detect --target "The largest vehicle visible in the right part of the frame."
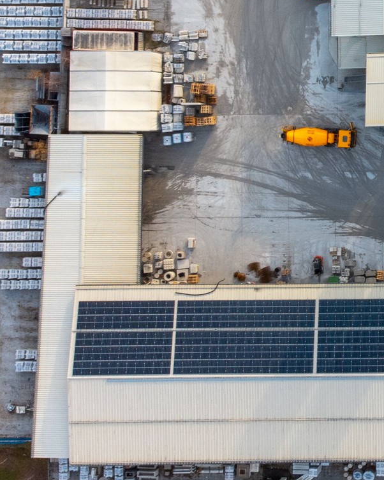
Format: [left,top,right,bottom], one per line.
[278,126,362,151]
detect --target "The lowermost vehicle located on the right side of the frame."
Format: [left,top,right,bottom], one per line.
[311,255,327,282]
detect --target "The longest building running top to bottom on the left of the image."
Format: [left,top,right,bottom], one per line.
[31,135,145,457]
